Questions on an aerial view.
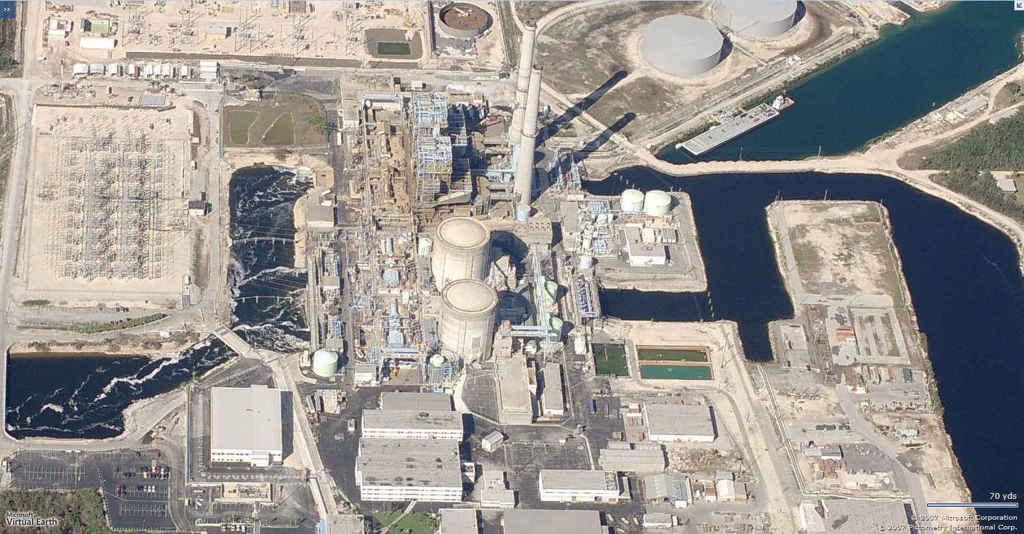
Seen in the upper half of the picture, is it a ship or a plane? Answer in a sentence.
There is a ship in the upper half of the picture.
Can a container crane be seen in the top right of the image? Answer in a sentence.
No, I see no container crane in the top right of the image.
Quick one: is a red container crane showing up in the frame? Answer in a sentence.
No, there is no red container crane in the image.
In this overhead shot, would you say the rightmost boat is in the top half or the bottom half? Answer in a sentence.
The top half of the photo is where the rightmost boat is.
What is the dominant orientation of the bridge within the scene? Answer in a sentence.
The bridge is oriented diagonally.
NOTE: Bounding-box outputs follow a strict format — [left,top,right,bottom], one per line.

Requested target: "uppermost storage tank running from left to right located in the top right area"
[715,0,796,37]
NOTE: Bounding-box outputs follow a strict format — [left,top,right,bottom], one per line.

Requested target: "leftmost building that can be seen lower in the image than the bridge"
[210,388,283,467]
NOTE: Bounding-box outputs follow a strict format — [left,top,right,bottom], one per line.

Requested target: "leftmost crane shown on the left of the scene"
[381,346,426,384]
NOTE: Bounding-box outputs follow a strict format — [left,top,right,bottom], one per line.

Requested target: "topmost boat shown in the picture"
[774,90,796,110]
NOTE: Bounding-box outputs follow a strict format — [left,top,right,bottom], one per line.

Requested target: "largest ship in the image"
[682,102,779,156]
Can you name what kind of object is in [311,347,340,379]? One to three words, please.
water tank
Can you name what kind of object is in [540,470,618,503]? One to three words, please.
building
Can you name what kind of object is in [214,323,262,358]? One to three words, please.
bridge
